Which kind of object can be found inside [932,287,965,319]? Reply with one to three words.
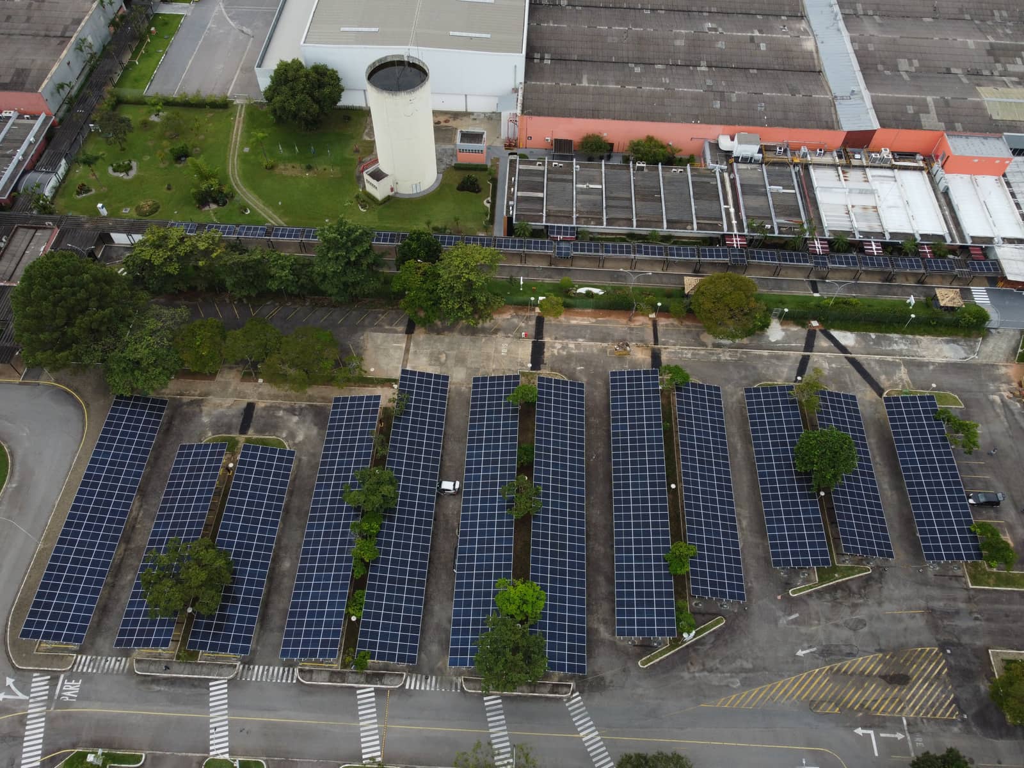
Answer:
gazebo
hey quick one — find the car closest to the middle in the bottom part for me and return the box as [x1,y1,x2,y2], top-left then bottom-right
[435,479,460,498]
